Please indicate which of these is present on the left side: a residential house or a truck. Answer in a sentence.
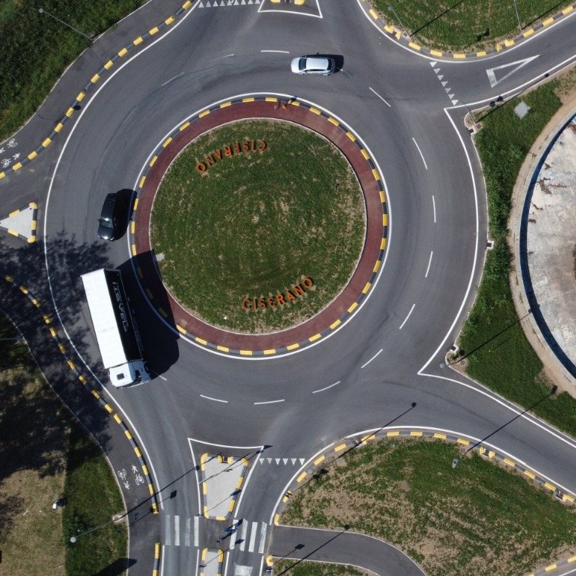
Looking on the left side, you will find a truck.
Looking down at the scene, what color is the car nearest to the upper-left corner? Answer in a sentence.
The color of the car nearest to the upper-left corner is black.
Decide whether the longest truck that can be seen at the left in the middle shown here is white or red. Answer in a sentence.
In this view, the longest truck that can be seen at the left in the middle is white.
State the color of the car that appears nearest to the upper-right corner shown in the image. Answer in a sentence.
The car that appears nearest to the upper-right corner is white.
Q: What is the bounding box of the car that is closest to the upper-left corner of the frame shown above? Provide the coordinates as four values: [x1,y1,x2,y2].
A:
[93,193,124,242]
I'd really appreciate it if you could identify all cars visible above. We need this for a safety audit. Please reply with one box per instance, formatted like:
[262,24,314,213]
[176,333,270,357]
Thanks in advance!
[93,193,124,242]
[291,56,334,78]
